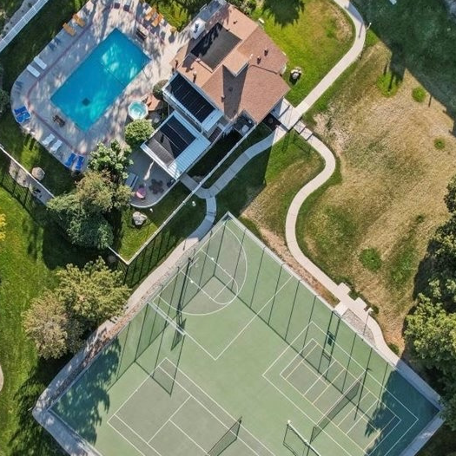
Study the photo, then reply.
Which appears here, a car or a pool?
pool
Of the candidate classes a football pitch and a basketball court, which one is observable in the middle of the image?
basketball court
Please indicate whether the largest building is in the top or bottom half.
top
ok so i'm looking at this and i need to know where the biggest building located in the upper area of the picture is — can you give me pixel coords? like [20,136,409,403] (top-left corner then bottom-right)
[169,3,290,133]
